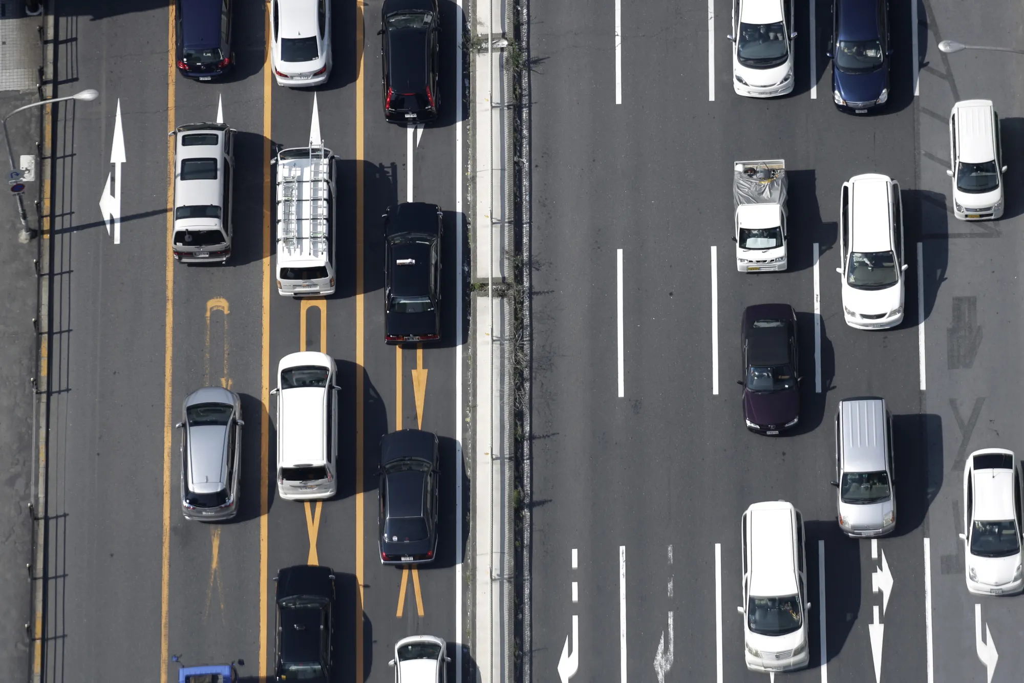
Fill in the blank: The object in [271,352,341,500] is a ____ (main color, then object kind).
white car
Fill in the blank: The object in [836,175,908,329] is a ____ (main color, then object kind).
white car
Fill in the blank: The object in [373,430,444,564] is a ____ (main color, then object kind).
black car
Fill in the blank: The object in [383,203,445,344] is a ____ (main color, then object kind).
black car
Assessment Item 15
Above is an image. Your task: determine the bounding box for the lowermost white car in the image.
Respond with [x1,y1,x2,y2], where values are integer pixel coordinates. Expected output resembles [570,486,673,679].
[387,637,453,683]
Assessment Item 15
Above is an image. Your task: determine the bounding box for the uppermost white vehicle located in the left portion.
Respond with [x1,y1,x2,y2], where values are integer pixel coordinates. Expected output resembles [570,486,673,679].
[270,0,332,87]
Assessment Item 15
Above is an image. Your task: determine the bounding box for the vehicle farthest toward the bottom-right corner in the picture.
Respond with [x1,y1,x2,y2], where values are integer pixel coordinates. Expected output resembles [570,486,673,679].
[958,449,1024,594]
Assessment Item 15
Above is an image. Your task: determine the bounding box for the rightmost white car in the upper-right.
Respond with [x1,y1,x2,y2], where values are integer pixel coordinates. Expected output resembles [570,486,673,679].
[946,101,1008,220]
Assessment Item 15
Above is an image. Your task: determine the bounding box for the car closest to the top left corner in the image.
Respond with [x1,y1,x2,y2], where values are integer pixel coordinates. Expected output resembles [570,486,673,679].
[175,0,235,81]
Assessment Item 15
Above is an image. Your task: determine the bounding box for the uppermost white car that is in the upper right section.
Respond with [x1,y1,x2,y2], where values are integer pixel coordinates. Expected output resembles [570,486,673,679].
[727,0,799,97]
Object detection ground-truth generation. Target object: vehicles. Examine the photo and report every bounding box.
[731,203,790,272]
[270,0,332,87]
[375,0,444,124]
[387,637,453,683]
[272,146,340,296]
[170,120,238,263]
[176,387,247,520]
[373,430,444,564]
[946,101,1008,220]
[173,656,244,683]
[271,352,341,500]
[274,565,337,683]
[836,175,908,329]
[830,393,901,537]
[175,0,235,81]
[958,449,1024,594]
[383,203,445,344]
[826,0,895,114]
[737,499,812,672]
[727,0,799,97]
[736,305,805,436]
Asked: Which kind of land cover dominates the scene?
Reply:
paved ground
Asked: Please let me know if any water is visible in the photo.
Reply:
No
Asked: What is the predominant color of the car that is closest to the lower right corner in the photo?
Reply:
white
